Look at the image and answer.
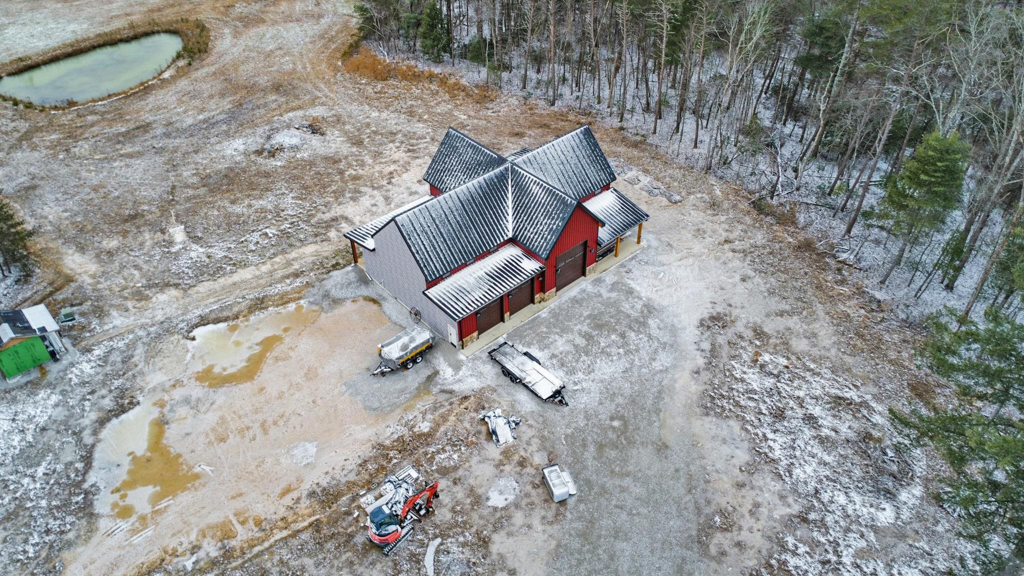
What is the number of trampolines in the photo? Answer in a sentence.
No trampolines are visible.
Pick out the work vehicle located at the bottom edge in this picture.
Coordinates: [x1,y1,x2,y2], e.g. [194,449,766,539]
[362,480,442,556]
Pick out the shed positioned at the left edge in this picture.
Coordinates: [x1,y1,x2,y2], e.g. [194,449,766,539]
[0,302,71,381]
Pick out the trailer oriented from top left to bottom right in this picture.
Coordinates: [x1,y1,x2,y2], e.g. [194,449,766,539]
[487,342,569,406]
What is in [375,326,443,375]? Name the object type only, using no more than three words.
trailer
